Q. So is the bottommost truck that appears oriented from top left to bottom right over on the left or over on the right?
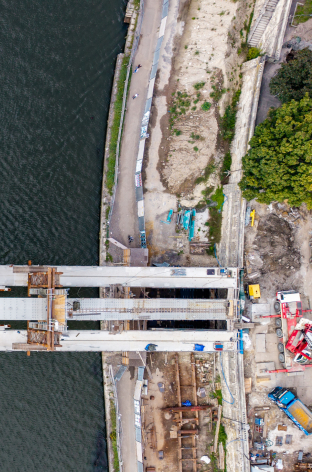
right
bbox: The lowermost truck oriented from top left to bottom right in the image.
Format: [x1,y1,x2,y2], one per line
[263,386,312,436]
